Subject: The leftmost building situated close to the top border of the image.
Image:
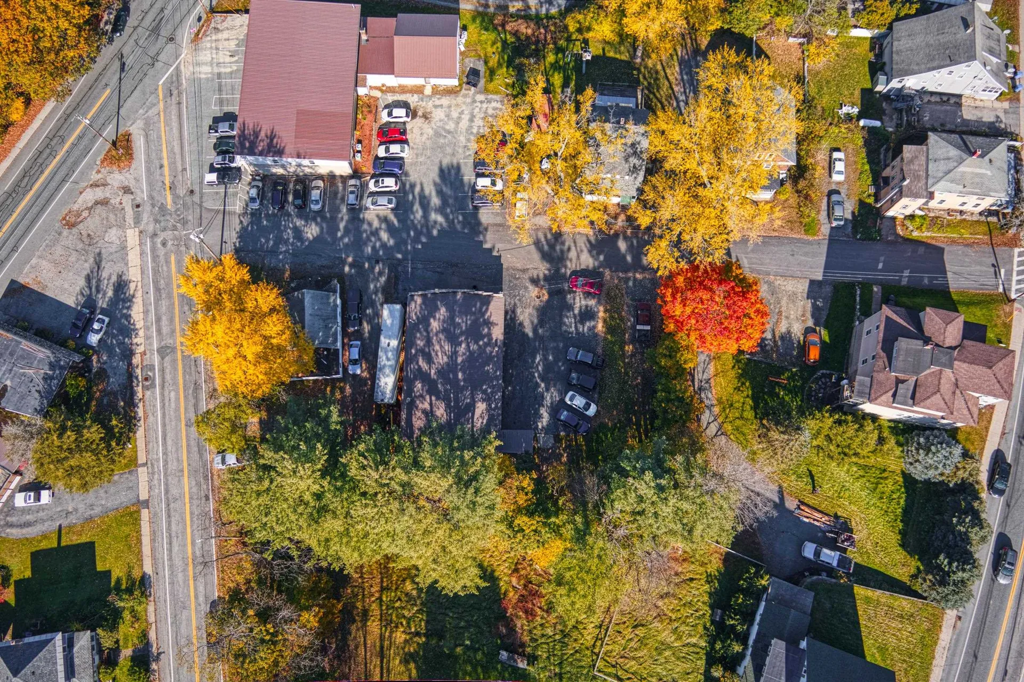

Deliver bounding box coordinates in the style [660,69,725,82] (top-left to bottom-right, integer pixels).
[236,0,365,175]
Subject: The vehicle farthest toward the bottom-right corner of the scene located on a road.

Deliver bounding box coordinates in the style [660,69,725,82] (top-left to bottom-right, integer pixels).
[993,545,1015,584]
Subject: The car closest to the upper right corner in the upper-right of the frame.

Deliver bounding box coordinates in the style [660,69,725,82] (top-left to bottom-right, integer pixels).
[828,152,845,181]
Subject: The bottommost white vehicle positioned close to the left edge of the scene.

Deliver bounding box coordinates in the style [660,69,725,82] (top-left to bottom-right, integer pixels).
[14,489,56,507]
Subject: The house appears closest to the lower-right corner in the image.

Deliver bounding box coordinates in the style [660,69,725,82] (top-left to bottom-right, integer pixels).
[717,575,897,682]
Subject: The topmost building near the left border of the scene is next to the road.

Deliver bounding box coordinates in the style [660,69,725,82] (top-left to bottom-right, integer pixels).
[0,323,96,418]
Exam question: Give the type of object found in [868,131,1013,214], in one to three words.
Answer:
house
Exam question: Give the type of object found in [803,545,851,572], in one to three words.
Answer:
truck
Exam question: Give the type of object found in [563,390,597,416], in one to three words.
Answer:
car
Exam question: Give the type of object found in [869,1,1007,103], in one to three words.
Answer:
house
